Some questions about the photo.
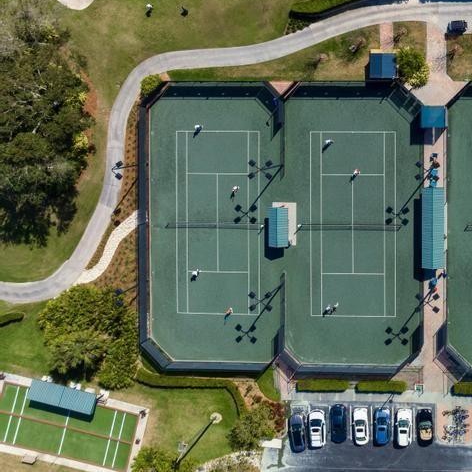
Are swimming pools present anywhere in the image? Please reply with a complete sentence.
No, I find no swimming pool anywhere in the image.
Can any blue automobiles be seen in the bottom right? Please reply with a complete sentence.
Yes, a blue automobile can be seen in the bottom right.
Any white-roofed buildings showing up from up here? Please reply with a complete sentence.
No, no white-roofed building can be seen from above.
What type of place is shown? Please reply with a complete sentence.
What you see here is a sports ground.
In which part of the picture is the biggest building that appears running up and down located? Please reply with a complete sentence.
The biggest building that appears running up and down is in the right part of the image.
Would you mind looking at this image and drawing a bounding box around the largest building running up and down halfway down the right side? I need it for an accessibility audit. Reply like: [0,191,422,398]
[421,185,445,270]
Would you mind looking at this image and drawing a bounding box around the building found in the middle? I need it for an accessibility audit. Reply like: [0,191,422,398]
[269,205,292,248]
